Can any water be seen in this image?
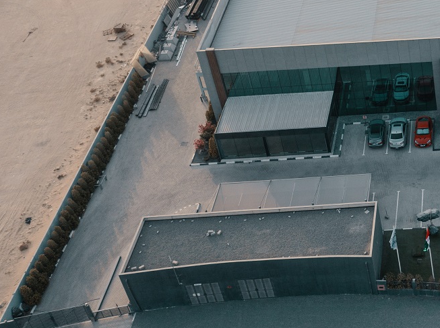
No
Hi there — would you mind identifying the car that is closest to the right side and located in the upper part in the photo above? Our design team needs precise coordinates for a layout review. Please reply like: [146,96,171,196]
[413,114,432,144]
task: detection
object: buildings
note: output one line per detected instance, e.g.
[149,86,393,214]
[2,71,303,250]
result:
[196,0,440,160]
[120,202,382,313]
